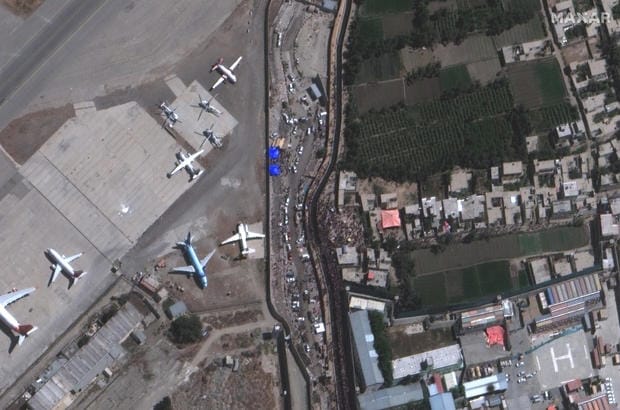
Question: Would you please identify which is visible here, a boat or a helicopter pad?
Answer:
helicopter pad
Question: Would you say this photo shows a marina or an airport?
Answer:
airport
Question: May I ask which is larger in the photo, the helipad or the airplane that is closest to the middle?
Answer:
the helipad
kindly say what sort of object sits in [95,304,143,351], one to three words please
shed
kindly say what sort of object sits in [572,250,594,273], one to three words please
building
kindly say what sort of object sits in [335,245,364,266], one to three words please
house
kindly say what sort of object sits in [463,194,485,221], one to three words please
house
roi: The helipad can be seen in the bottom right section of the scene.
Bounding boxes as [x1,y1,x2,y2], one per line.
[531,336,596,389]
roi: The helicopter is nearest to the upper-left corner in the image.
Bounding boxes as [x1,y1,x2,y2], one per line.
[158,101,183,127]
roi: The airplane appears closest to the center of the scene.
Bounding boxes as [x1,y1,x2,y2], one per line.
[223,223,267,254]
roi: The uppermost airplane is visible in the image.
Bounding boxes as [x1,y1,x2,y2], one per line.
[212,59,243,88]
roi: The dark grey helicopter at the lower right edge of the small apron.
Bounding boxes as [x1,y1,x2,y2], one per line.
[199,124,223,147]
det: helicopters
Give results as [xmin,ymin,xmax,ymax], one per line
[193,96,223,119]
[199,124,223,147]
[158,101,183,127]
